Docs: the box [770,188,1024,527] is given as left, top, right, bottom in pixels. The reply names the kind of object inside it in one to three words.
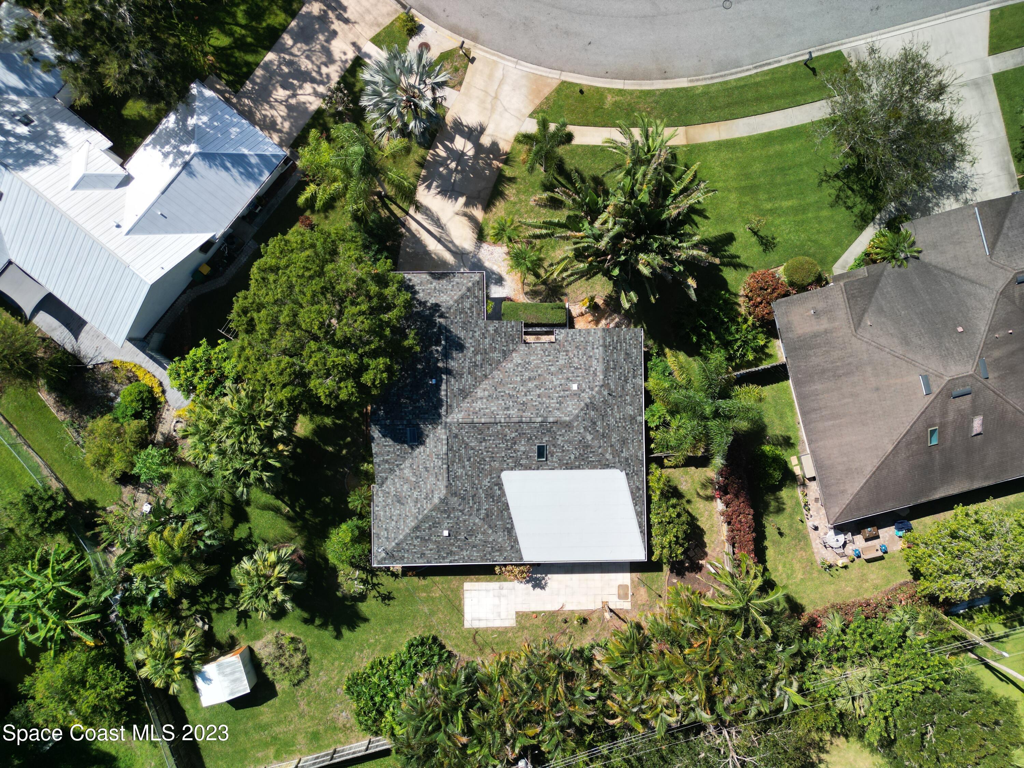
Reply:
house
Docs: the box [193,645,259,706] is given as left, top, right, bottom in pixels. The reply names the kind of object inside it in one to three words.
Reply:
shed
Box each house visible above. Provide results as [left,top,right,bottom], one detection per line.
[770,188,1024,527]
[370,270,649,567]
[0,2,293,350]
